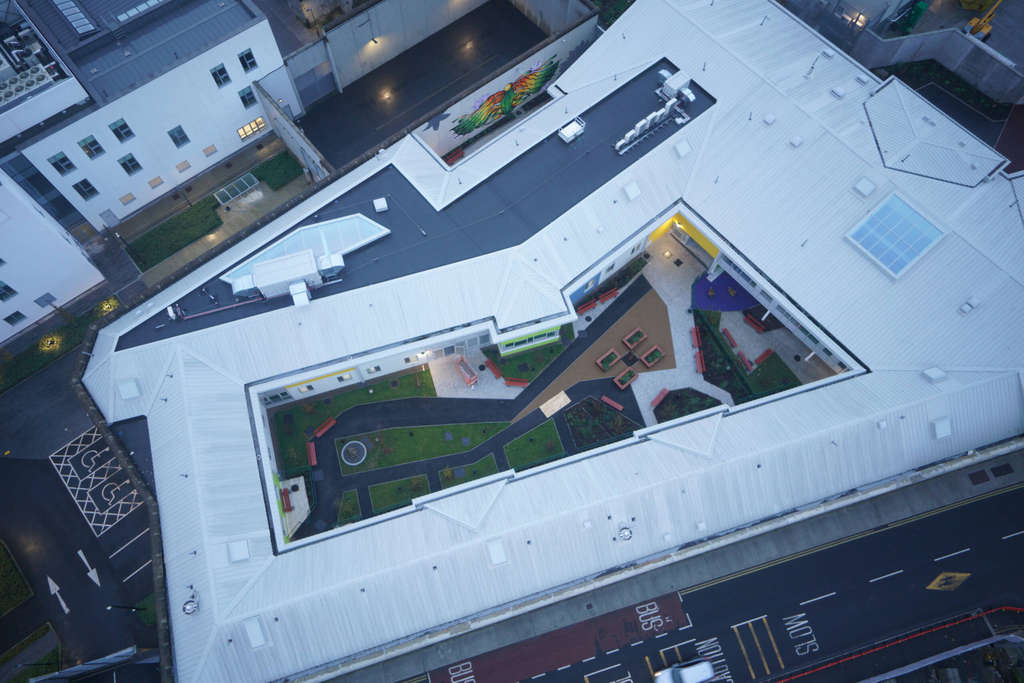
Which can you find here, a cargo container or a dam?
cargo container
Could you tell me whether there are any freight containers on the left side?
No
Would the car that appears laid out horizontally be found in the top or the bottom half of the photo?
bottom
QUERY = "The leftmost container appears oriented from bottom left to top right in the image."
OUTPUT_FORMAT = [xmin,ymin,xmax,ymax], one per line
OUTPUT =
[892,1,929,38]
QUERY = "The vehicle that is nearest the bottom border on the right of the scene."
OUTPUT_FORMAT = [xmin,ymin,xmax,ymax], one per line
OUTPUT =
[657,654,719,683]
